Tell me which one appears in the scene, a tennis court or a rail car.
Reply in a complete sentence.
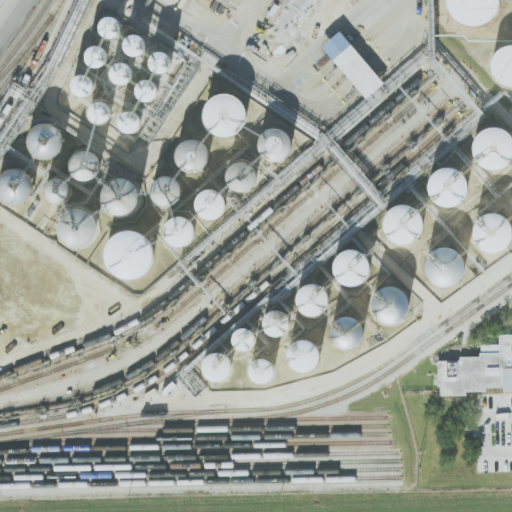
The image shows a rail car.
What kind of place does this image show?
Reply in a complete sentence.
The area seen from above is an industrial area.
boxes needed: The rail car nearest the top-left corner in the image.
[30,36,48,70]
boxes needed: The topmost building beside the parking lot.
[437,334,512,396]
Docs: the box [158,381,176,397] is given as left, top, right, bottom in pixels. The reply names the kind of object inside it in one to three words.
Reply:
vehicle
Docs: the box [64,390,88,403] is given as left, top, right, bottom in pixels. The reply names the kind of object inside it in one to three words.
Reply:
rail car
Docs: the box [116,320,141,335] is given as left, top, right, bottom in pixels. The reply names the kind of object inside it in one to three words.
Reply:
rail car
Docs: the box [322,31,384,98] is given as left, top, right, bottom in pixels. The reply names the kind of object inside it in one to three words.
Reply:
shed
